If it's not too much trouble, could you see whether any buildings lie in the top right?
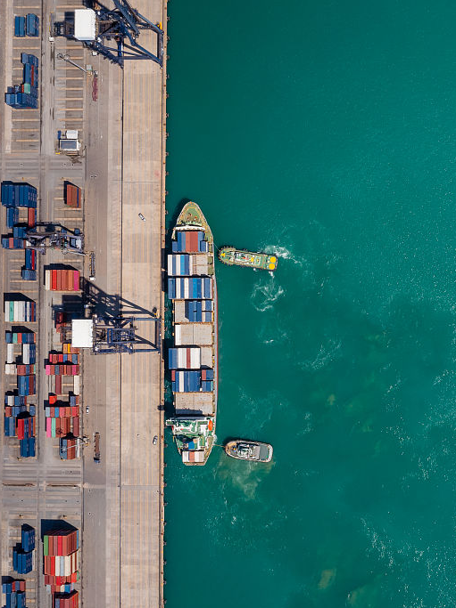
No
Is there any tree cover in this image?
No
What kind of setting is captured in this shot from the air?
port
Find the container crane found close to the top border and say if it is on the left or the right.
left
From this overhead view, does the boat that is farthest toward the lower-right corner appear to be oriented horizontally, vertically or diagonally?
horizontally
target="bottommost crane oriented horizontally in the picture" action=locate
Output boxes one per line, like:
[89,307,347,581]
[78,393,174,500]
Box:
[65,312,160,359]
